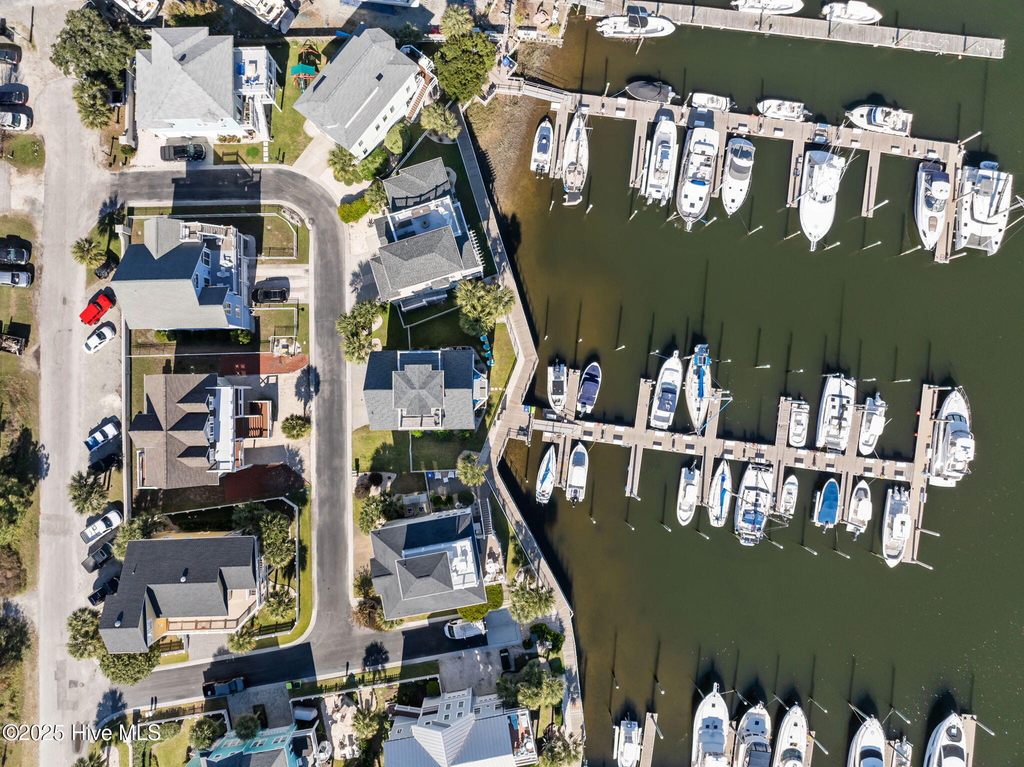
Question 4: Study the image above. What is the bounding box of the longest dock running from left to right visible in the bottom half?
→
[542,370,939,564]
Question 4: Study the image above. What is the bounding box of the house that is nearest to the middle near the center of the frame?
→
[363,350,489,430]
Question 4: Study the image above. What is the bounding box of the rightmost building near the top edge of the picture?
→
[292,22,441,163]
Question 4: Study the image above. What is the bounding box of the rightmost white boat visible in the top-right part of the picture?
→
[951,158,1024,255]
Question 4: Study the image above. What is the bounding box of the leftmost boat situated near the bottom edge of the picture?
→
[612,706,643,767]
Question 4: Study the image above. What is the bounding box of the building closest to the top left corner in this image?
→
[135,26,280,144]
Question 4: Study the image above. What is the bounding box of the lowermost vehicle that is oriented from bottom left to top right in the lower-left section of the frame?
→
[84,576,116,608]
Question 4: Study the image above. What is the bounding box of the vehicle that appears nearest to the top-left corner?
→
[0,47,23,68]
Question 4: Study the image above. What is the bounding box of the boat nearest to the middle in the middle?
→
[548,355,569,411]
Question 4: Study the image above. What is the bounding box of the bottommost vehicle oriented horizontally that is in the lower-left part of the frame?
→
[202,673,247,698]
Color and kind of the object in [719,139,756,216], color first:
white boat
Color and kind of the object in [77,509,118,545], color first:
white vehicle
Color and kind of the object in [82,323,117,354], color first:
white car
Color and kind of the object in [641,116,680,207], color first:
white boat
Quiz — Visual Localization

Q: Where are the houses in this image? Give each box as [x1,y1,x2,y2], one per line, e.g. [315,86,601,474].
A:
[128,374,276,490]
[100,533,279,654]
[292,22,441,163]
[369,157,486,312]
[369,499,507,621]
[383,687,538,767]
[135,26,280,144]
[363,350,489,430]
[104,218,250,330]
[197,709,336,767]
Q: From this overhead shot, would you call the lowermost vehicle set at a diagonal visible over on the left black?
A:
Yes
